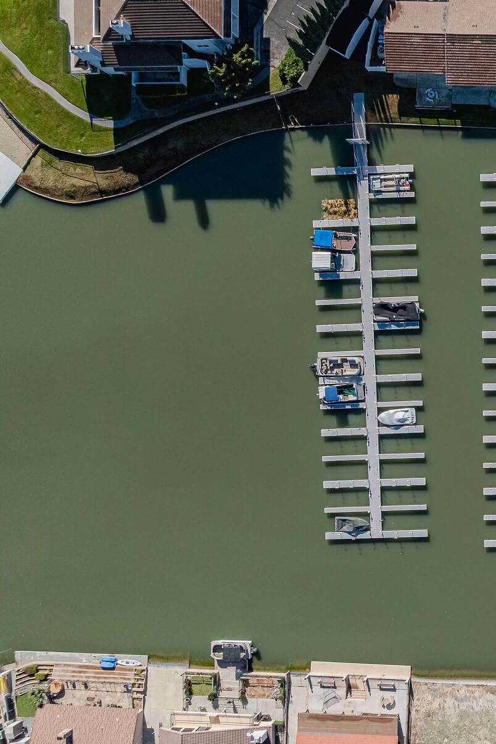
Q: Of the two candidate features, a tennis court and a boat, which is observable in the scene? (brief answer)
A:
boat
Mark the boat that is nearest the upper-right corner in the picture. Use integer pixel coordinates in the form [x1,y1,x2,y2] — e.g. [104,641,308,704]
[364,175,415,193]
